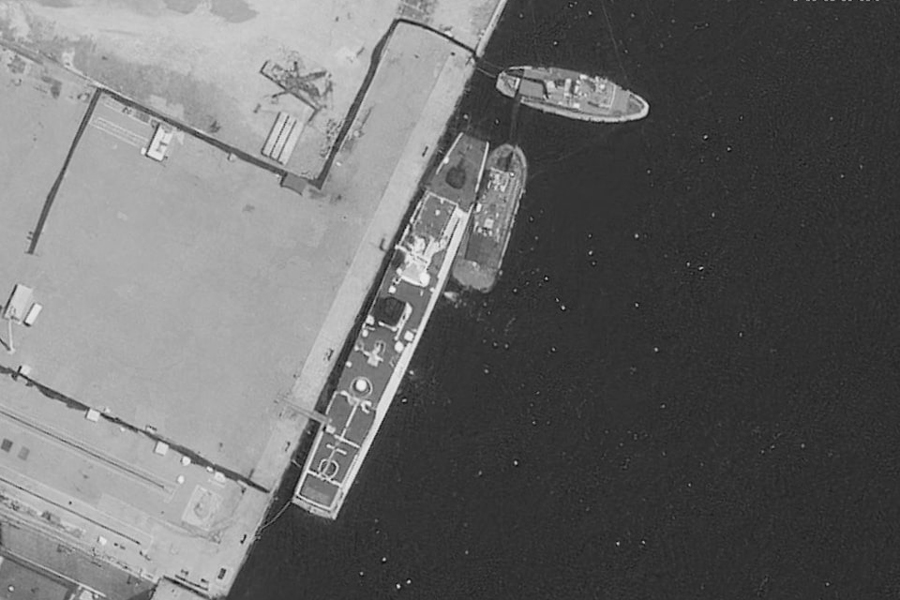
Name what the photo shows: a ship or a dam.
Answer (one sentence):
Looking from above, you can make out a ship.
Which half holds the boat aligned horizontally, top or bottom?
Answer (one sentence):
It is in the top half that the boat aligned horizontally appears.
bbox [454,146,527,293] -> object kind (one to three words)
boat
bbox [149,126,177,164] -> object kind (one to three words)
building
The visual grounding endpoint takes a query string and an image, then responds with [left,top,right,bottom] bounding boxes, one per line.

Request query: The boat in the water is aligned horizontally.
[496,65,650,124]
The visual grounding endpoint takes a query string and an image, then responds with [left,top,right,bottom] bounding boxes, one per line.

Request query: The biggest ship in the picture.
[294,133,490,518]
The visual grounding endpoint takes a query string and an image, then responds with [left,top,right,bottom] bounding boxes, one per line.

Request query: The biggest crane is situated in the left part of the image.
[237,59,337,122]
